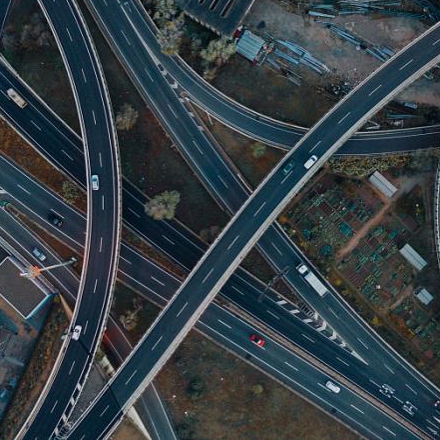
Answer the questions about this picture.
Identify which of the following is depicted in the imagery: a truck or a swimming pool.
truck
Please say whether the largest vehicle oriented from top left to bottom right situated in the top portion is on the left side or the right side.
left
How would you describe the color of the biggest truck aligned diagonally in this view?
white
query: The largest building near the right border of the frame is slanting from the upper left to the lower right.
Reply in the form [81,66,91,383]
[399,244,428,271]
